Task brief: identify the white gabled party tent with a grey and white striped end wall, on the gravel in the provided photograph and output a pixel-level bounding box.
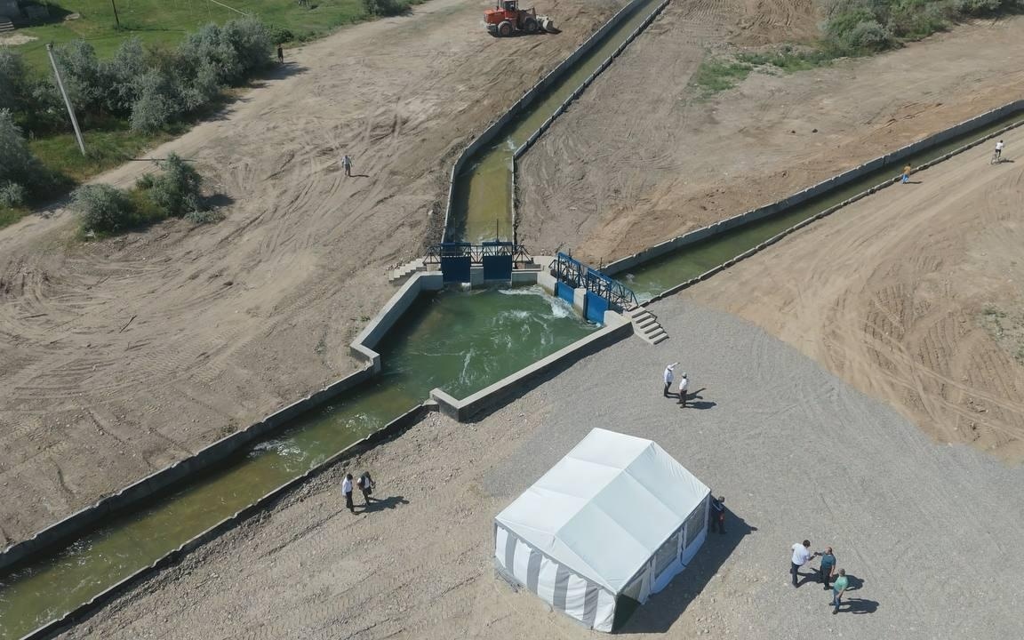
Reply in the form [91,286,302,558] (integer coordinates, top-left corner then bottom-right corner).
[491,434,710,635]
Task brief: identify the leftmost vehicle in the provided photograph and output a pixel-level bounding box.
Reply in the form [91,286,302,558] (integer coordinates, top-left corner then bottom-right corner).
[487,0,562,38]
